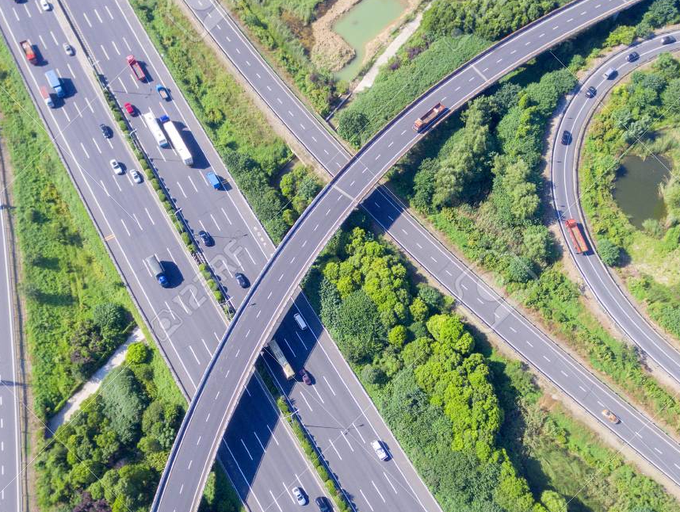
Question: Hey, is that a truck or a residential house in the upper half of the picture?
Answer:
truck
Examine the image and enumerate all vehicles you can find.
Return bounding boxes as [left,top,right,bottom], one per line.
[126,53,147,82]
[293,313,309,332]
[160,115,197,169]
[316,494,333,512]
[207,171,221,188]
[110,159,122,174]
[18,37,37,64]
[625,52,640,62]
[63,42,73,55]
[603,68,617,80]
[143,111,171,152]
[39,86,55,108]
[39,0,50,11]
[124,102,136,116]
[563,214,589,258]
[298,366,313,385]
[268,333,299,381]
[372,441,388,462]
[130,168,142,183]
[561,130,571,145]
[235,272,248,289]
[199,230,212,246]
[600,407,620,425]
[292,485,308,506]
[155,81,171,102]
[660,35,677,45]
[585,86,598,99]
[100,123,112,138]
[43,64,67,99]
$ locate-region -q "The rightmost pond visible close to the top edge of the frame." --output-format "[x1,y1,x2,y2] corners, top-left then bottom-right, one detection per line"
[332,0,411,79]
